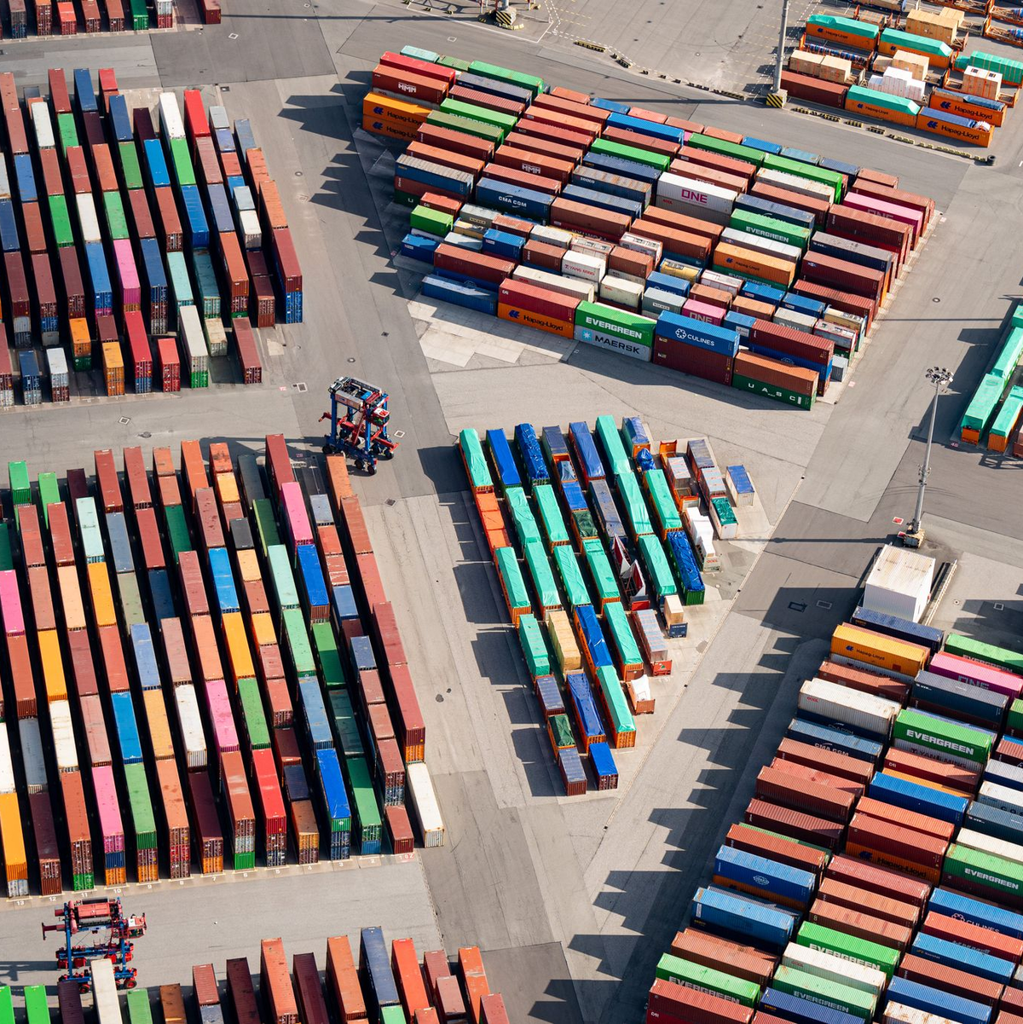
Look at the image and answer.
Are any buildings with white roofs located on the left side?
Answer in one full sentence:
No, there's no building with a white roof to be seen on the left side.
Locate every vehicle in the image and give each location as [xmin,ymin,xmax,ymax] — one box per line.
[34,892,145,1001]
[318,367,399,476]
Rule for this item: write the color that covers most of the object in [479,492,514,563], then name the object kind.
orange shipping container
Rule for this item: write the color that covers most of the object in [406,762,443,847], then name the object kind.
white shipping container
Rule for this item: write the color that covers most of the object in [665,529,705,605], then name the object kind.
blue shipping container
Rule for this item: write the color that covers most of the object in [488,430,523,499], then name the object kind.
blue shipping container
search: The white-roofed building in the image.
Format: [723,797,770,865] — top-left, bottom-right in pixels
[863,537,937,622]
